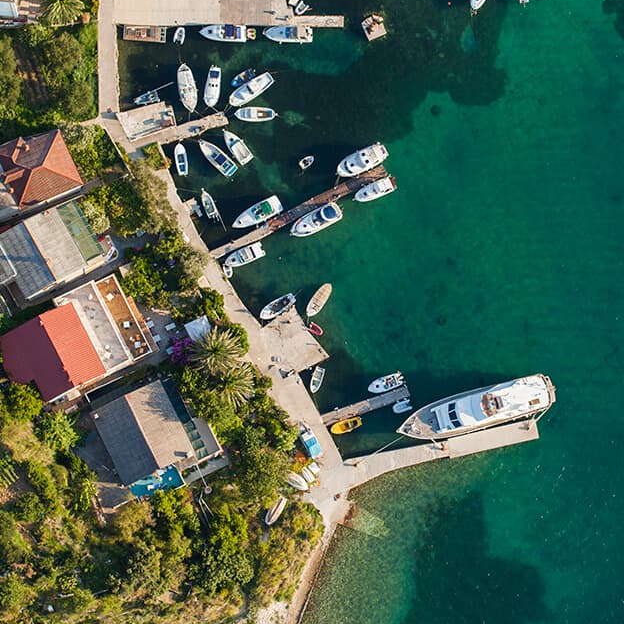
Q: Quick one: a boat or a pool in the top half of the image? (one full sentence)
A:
Looking in the top half of the image, you will find a boat.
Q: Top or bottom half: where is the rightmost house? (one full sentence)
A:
You can find the rightmost house in the bottom half.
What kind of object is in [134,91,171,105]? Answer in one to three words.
boat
